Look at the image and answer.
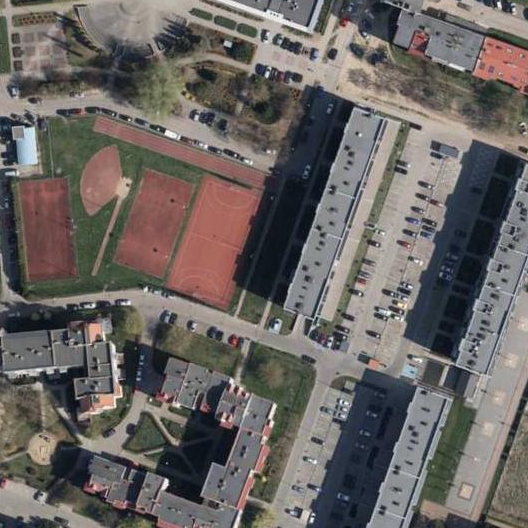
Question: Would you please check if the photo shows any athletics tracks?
Yes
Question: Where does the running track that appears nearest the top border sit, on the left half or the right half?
left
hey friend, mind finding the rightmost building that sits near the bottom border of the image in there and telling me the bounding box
[365,387,457,528]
